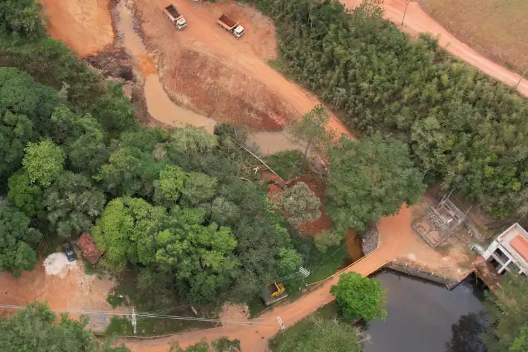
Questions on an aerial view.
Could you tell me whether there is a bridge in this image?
Yes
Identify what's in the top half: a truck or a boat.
truck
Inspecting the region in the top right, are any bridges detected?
No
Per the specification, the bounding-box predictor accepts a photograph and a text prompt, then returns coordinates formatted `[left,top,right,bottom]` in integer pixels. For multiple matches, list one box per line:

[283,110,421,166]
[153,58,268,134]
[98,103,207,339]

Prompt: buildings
[72,233,107,274]
[465,215,528,300]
